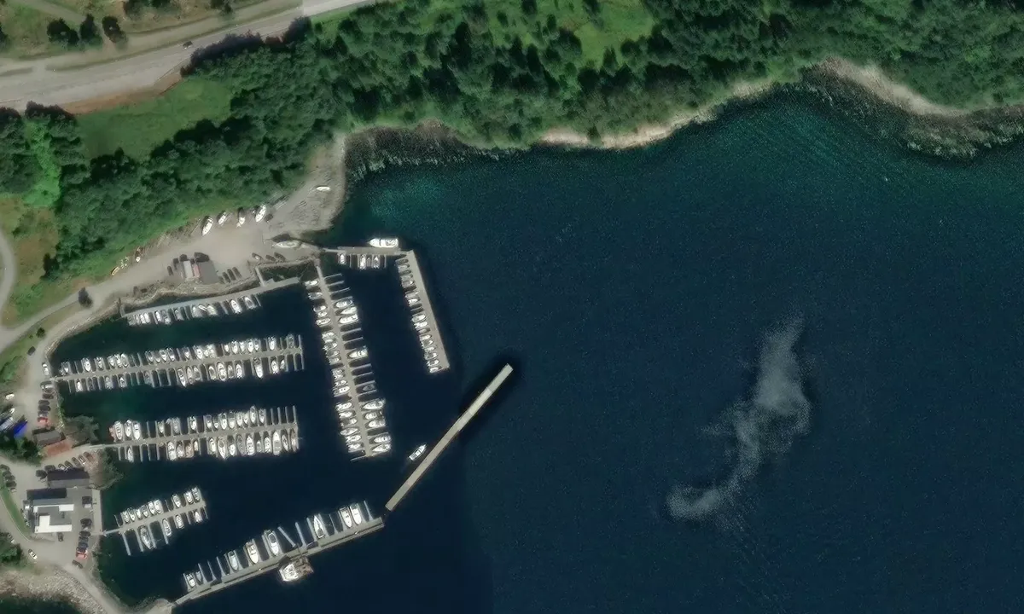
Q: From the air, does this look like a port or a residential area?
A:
port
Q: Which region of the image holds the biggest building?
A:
bottom left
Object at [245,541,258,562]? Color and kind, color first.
white boat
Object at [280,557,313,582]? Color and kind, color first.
white ship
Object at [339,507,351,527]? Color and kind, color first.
white boat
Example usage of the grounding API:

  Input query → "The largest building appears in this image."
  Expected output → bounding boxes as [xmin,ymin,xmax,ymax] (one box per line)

[32,498,74,534]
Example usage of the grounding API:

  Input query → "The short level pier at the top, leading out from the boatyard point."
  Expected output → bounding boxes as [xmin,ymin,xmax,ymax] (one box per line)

[316,247,409,267]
